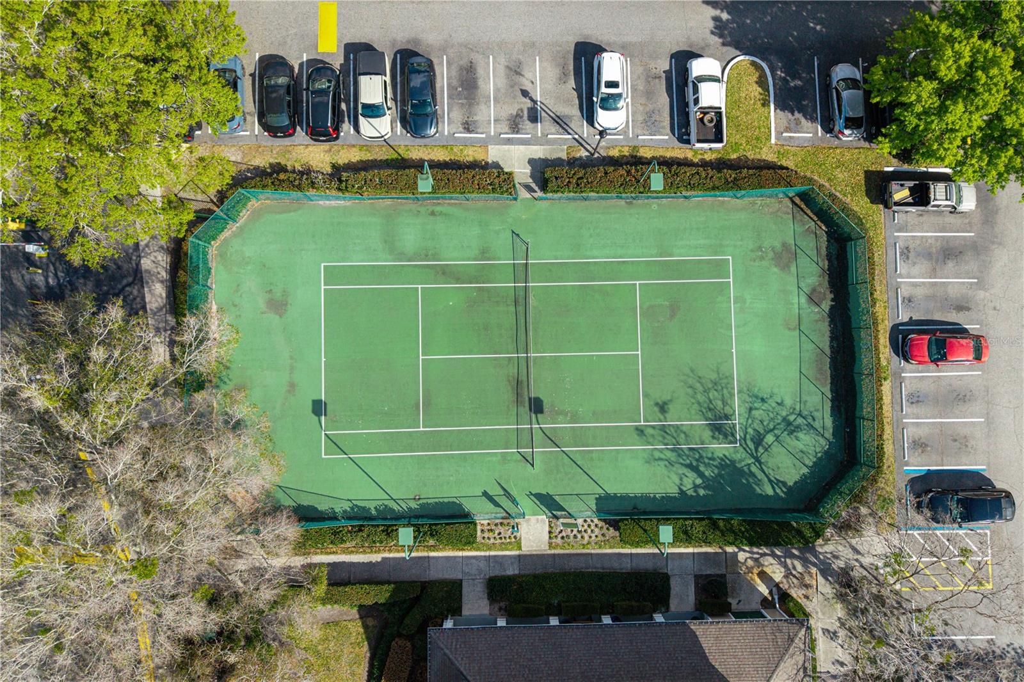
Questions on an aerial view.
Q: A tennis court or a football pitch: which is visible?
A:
tennis court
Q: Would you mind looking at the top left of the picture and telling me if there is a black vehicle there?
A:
Yes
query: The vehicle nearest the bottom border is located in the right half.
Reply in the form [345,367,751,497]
[914,484,1007,528]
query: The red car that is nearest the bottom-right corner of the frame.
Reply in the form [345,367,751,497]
[901,330,988,369]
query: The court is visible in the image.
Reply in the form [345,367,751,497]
[215,198,842,516]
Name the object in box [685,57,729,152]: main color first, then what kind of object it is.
white truck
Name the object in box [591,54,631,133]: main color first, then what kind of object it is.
white car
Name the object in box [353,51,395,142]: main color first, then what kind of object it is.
white truck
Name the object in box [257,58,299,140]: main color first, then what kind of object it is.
black car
